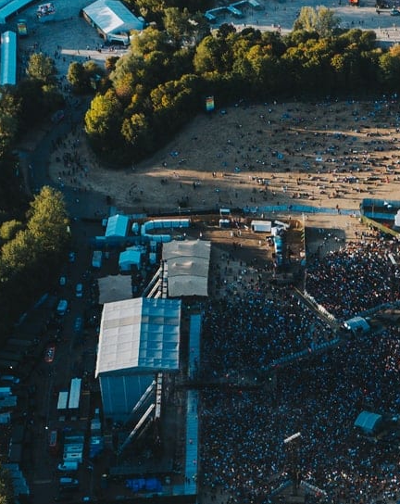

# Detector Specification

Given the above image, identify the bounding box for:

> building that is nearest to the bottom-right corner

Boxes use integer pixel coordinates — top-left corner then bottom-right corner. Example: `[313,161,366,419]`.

[354,414,380,437]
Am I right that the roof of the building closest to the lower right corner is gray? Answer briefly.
No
